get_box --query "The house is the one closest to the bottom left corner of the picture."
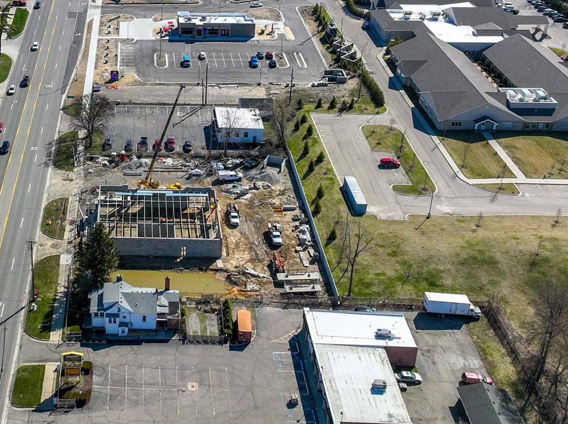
[84,274,181,348]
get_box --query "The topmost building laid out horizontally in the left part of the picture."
[176,11,257,39]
